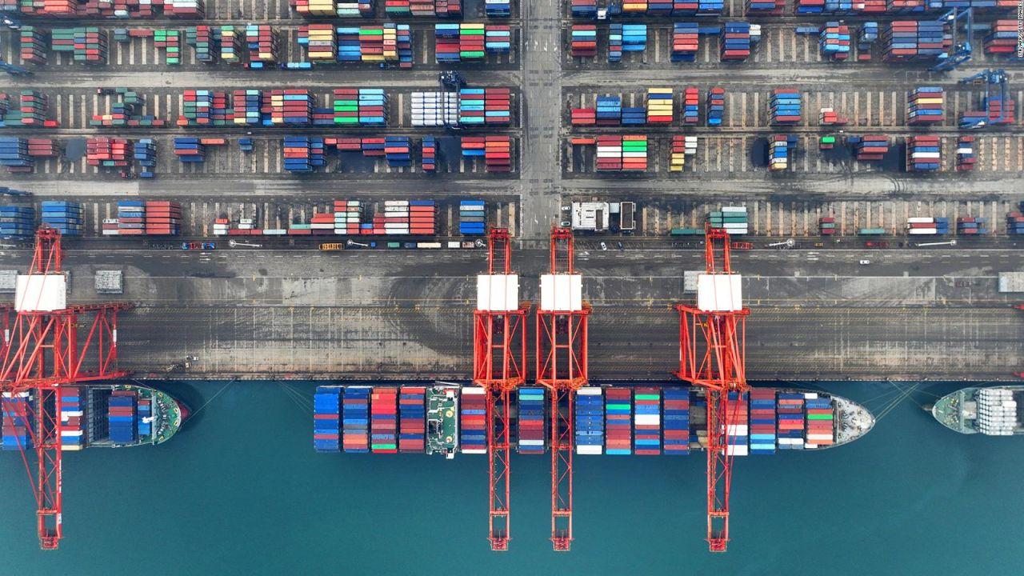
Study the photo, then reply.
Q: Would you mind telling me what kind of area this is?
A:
port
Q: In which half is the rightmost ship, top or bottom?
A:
bottom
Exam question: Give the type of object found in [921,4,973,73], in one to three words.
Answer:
crane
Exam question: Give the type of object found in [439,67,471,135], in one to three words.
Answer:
crane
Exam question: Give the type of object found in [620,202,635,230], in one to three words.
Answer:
shed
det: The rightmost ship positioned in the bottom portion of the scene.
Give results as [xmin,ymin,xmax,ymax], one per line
[920,384,1024,435]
